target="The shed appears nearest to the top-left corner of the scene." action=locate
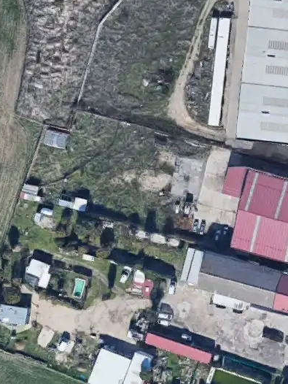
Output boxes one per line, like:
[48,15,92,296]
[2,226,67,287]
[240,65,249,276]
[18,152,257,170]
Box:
[43,127,72,150]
